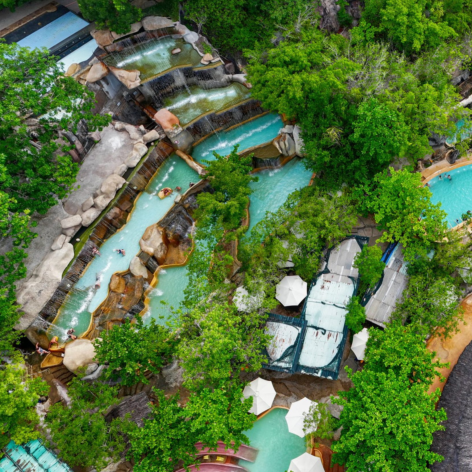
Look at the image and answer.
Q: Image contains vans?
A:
No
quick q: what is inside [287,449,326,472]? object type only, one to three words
umbrella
